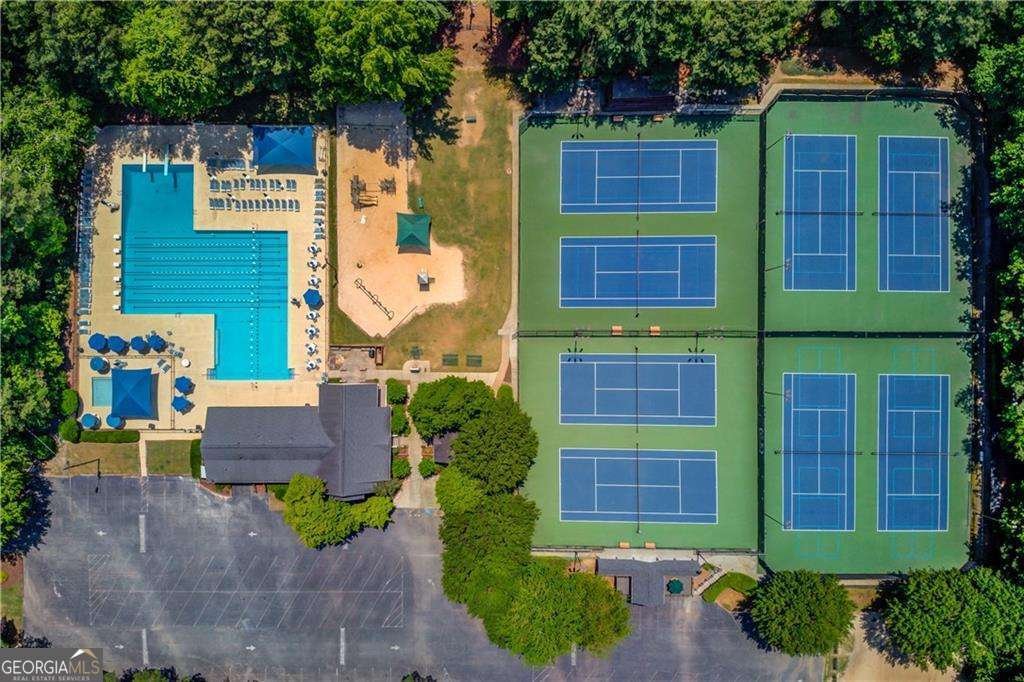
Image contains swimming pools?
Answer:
Yes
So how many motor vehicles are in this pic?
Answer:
0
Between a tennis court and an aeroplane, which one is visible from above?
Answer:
tennis court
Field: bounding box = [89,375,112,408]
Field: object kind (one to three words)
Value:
swimming pool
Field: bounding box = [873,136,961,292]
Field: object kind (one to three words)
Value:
tennis court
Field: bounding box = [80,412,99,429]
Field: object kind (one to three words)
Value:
umbrella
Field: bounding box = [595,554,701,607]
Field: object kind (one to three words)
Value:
building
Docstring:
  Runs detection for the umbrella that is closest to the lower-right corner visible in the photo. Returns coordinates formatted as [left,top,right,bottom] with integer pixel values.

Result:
[666,577,683,594]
